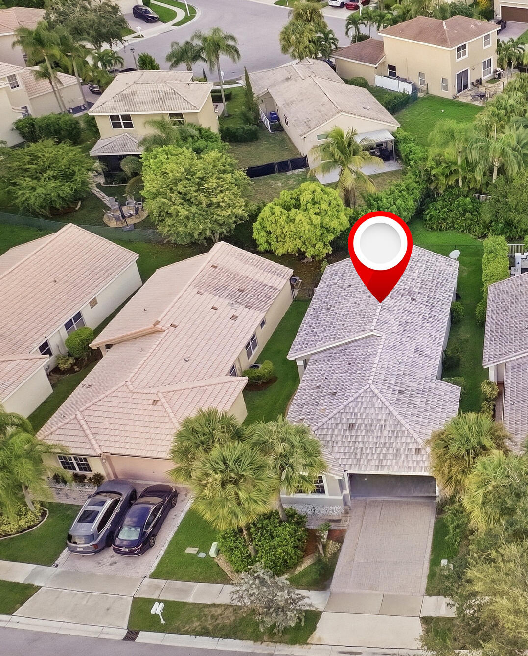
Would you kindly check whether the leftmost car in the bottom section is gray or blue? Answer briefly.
gray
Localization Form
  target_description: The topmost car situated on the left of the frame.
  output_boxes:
[135,8,159,23]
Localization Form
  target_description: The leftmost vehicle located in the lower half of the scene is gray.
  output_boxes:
[61,480,133,550]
